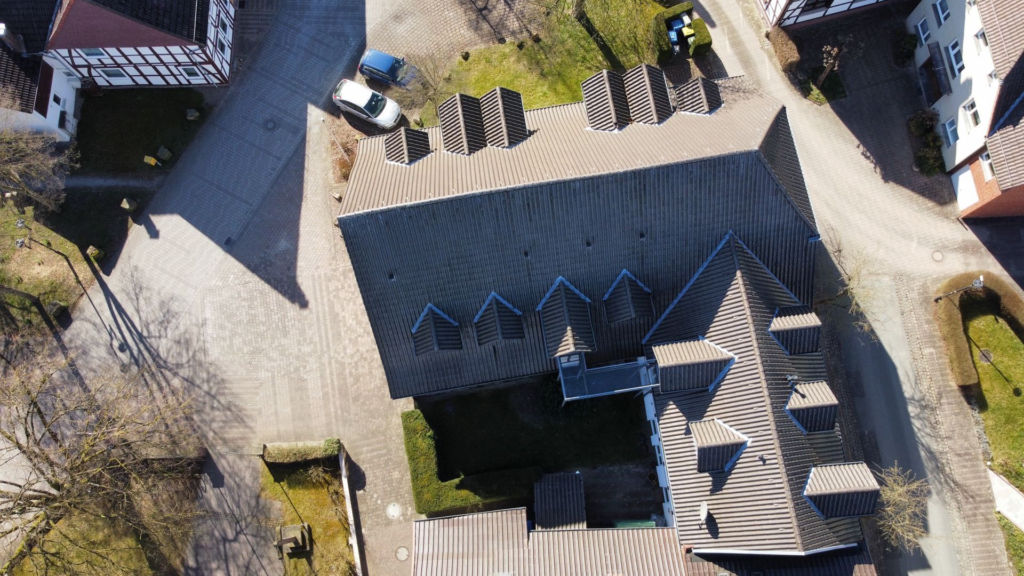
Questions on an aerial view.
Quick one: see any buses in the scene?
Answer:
No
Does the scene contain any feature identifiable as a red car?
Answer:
No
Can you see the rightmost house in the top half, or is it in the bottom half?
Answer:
top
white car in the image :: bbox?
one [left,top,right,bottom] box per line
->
[329,80,407,132]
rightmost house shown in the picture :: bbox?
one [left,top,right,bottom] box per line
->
[899,0,1024,215]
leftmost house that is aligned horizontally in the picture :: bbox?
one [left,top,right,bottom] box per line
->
[39,0,235,84]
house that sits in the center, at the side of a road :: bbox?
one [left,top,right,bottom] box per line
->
[337,62,882,561]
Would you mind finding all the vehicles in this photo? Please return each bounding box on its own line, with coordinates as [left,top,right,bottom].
[329,80,407,132]
[352,47,424,99]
